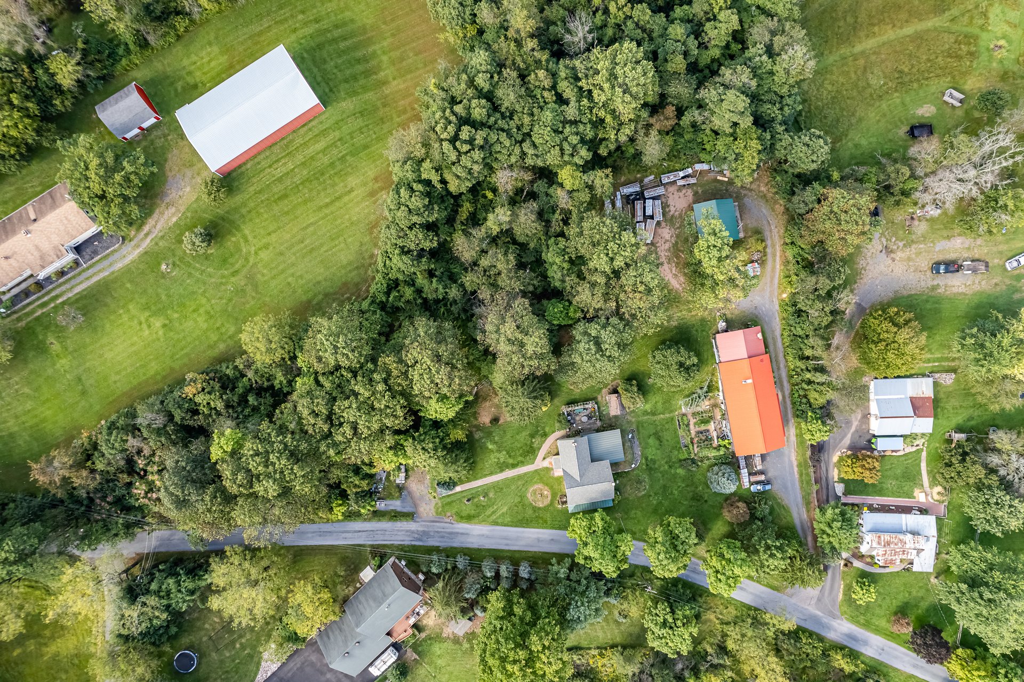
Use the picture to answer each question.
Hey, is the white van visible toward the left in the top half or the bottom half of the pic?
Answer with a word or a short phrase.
bottom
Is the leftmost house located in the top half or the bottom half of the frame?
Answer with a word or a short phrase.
top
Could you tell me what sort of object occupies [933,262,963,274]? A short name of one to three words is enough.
vehicle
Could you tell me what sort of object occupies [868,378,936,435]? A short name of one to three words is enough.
barn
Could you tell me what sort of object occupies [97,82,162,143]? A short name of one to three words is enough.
barn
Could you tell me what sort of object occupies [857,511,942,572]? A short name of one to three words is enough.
house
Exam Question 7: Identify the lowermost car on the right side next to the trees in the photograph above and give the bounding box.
[751,481,774,493]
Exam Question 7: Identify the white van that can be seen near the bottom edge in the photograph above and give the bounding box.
[366,649,398,682]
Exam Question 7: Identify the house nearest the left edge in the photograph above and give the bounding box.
[0,181,101,289]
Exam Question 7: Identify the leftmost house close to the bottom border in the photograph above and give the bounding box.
[317,557,430,677]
